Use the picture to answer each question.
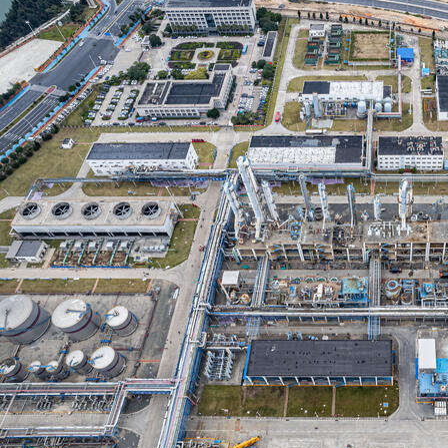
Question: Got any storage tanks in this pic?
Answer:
Yes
